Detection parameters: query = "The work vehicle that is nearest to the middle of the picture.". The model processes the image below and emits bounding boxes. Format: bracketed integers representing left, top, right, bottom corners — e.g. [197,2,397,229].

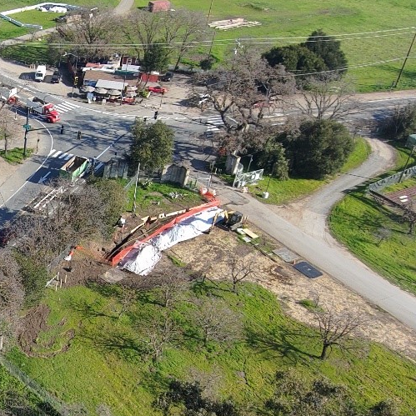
[216,206,254,230]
